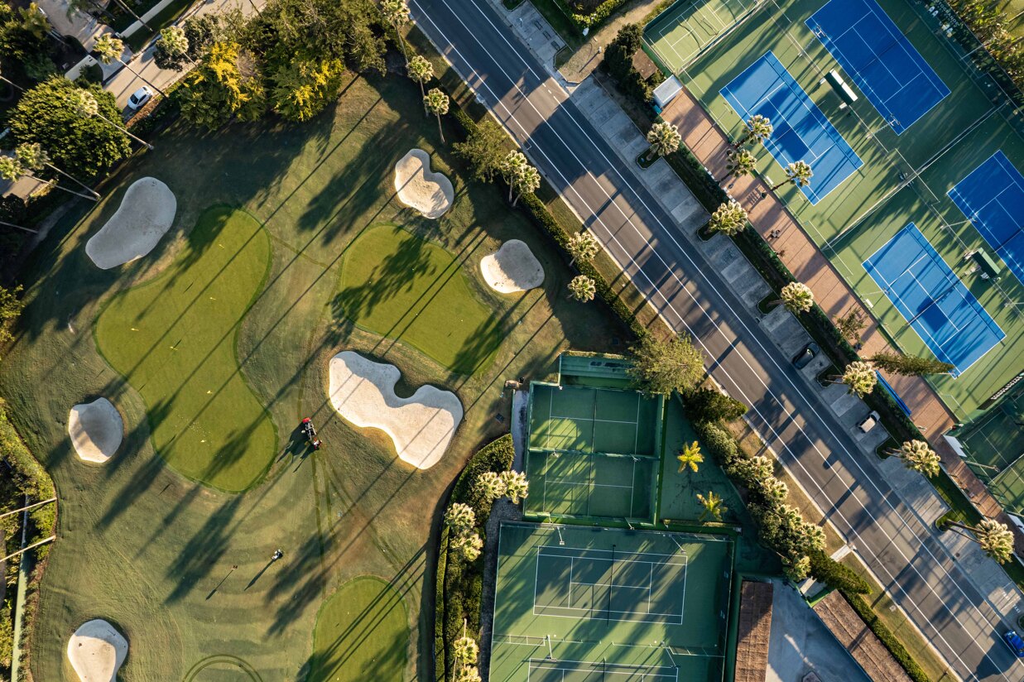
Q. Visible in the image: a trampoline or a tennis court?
tennis court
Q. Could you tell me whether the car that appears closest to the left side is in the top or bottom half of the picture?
top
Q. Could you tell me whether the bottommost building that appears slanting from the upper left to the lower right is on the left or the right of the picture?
right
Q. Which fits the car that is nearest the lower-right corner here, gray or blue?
blue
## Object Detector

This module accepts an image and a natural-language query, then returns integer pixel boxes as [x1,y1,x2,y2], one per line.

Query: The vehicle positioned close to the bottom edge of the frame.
[1002,630,1024,657]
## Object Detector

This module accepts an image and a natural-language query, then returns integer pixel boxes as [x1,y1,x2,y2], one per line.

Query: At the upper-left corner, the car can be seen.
[129,87,153,110]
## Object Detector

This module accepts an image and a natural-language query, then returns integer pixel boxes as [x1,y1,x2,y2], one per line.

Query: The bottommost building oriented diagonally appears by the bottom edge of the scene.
[807,588,908,682]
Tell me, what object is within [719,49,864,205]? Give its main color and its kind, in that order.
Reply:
blue tennis court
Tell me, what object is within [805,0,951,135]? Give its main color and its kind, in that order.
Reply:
blue tennis court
